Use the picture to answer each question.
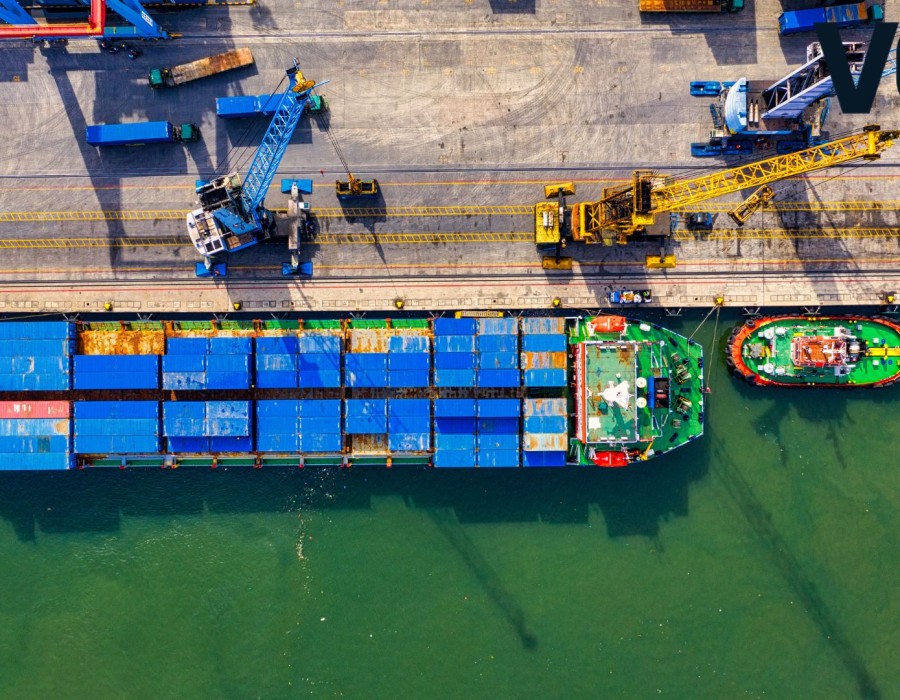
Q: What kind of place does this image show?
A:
port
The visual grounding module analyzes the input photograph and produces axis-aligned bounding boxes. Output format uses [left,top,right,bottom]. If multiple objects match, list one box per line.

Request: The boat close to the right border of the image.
[727,315,900,387]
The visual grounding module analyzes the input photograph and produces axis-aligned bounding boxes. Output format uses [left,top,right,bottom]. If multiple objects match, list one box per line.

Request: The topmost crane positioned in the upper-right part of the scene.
[688,40,900,157]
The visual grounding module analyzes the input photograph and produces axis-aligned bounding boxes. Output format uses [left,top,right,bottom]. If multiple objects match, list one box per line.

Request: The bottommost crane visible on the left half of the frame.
[188,57,352,278]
